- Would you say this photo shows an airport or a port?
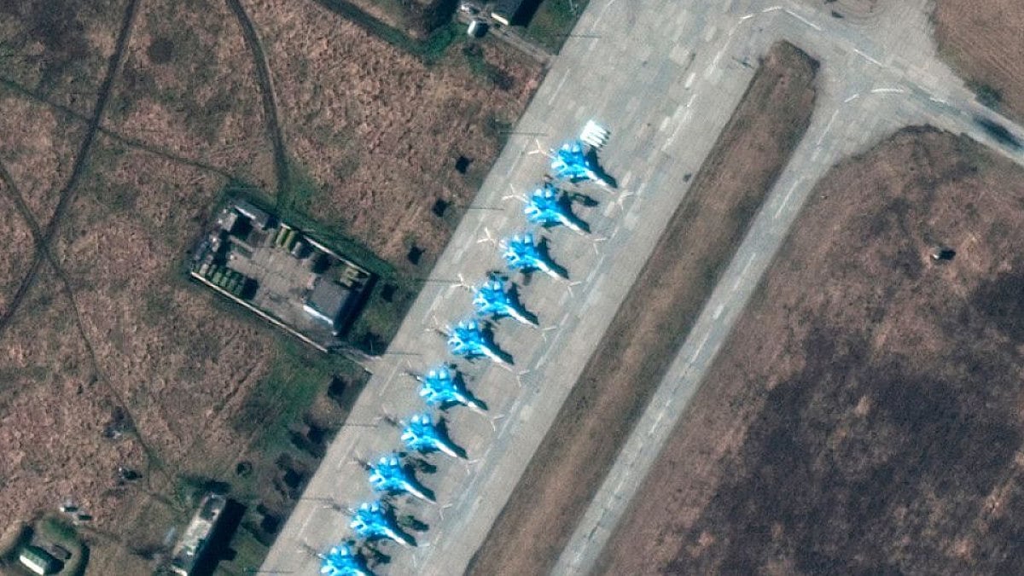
airport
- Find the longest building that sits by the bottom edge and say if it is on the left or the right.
left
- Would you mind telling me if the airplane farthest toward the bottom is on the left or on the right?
left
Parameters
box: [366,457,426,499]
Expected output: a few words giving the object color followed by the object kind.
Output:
blue airplane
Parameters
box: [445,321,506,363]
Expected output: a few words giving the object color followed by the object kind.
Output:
blue airplane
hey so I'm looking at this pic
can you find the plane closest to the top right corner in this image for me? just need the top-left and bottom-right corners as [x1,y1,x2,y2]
[549,144,608,186]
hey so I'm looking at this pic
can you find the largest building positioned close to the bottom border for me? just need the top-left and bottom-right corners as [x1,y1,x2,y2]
[173,492,228,571]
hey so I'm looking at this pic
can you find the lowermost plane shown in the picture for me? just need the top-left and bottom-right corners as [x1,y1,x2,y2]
[317,548,360,576]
